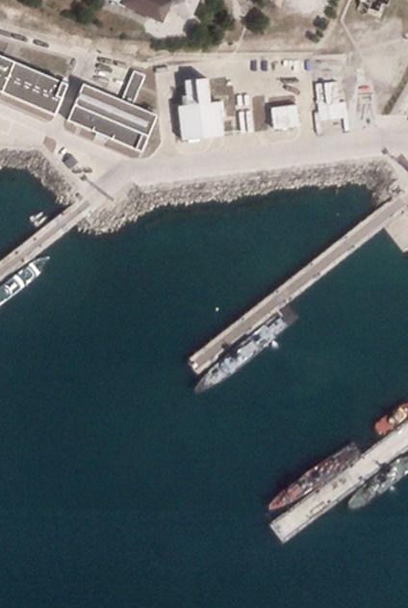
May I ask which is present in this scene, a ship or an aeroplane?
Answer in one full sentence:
This aerial view contains a ship.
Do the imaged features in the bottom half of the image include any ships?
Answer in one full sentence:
Yes, in the bottom half of the image there is a ship.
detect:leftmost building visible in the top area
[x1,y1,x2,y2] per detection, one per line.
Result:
[0,55,69,118]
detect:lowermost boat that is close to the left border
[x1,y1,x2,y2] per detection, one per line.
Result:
[0,259,46,307]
